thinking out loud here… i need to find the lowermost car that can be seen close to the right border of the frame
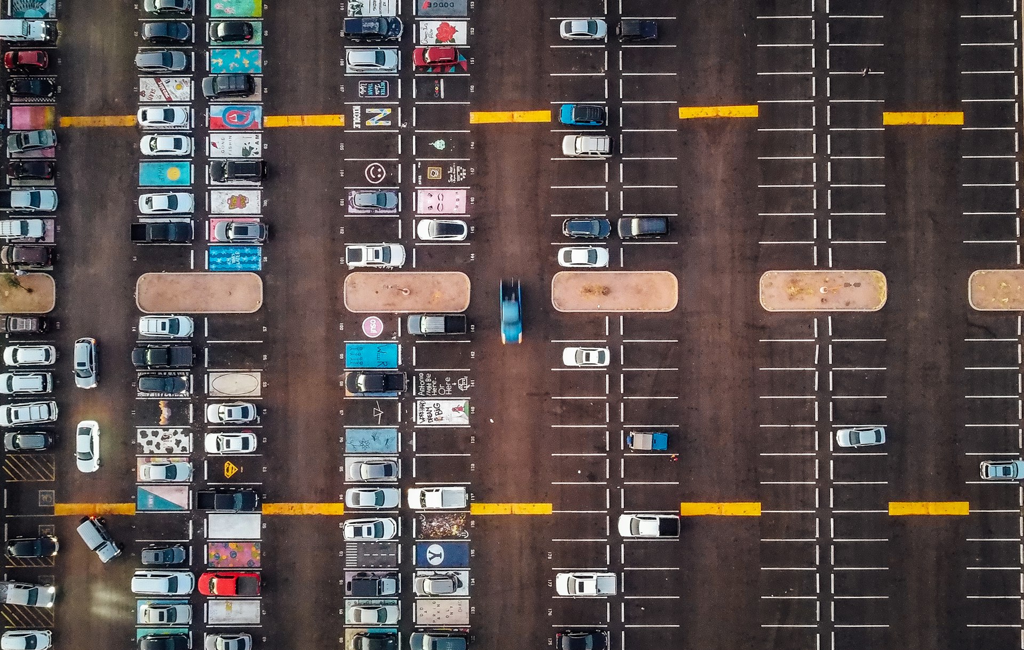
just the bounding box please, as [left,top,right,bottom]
[977,460,1024,483]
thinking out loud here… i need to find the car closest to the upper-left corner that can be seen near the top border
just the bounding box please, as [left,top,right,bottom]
[0,16,50,42]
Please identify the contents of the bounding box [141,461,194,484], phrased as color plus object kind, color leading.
white car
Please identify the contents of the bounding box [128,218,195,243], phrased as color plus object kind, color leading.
black truck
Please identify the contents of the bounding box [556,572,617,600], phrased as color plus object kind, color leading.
white truck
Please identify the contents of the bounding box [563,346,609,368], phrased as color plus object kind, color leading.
white car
